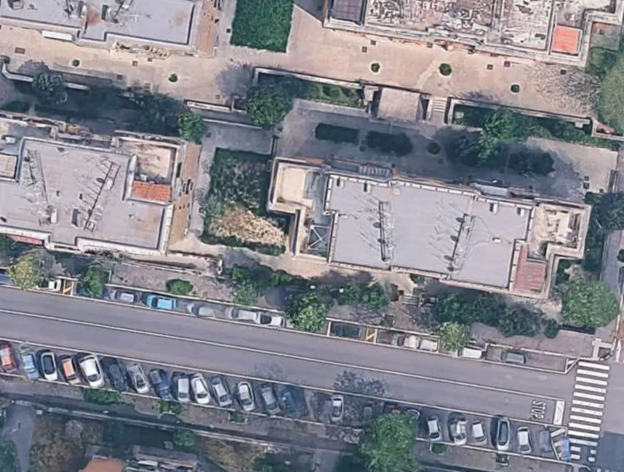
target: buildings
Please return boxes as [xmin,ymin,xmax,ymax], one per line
[0,0,220,67]
[323,0,624,72]
[69,452,234,472]
[0,102,201,256]
[266,149,592,298]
